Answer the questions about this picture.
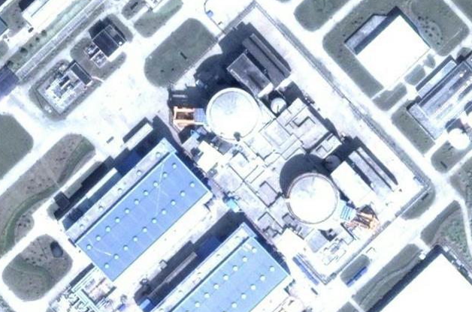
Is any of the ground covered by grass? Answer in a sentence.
Yes, grass can be seen from above here.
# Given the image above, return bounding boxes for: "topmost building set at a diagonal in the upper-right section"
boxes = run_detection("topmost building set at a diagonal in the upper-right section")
[344,15,387,50]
